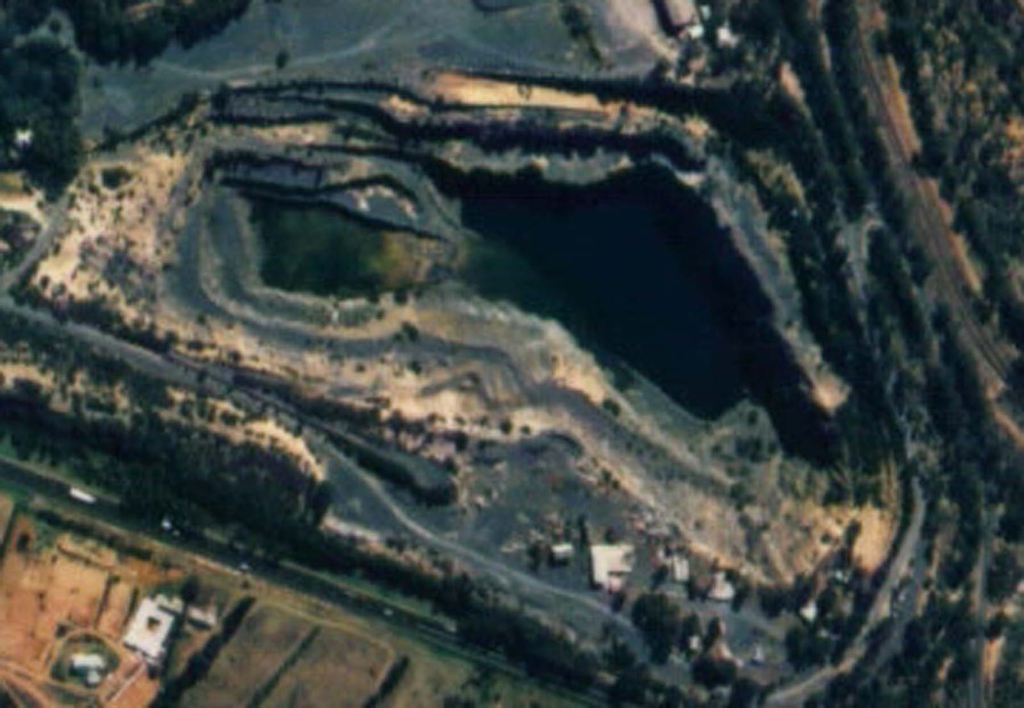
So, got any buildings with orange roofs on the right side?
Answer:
No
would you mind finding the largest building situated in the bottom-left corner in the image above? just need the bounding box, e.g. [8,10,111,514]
[124,595,181,667]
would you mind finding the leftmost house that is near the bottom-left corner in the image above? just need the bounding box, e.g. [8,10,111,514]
[71,654,104,684]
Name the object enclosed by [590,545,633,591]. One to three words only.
building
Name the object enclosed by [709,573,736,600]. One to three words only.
house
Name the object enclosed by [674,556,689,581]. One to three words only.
shed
